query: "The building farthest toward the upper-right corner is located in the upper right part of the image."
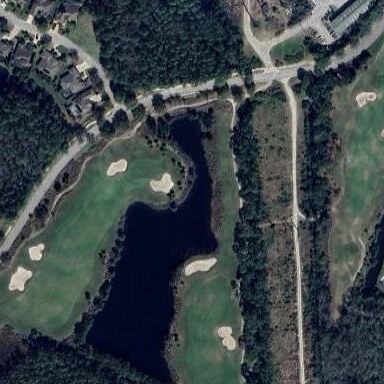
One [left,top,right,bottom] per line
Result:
[328,0,376,34]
